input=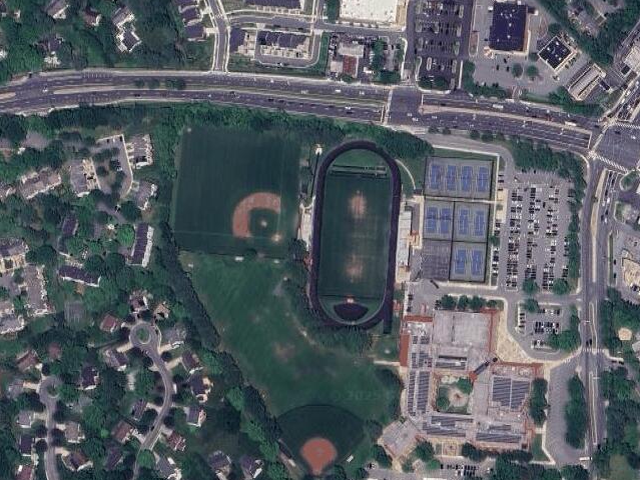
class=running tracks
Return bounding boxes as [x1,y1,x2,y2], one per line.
[309,139,401,331]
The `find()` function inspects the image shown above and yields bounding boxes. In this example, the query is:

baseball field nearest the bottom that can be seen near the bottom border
[281,405,364,475]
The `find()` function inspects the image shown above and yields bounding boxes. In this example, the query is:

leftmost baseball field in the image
[175,128,303,258]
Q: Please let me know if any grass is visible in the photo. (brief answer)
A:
Yes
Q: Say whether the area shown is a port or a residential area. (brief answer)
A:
residential area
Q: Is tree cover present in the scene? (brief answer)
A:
Yes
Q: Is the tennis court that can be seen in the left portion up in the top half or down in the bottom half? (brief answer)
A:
bottom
